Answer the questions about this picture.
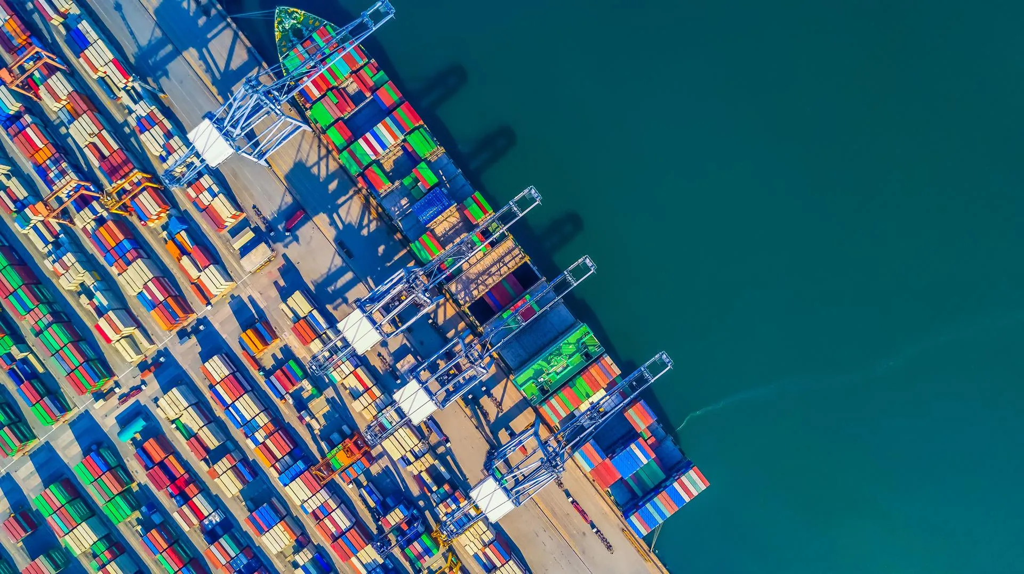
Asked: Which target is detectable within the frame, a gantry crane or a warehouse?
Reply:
gantry crane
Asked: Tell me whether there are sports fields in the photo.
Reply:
No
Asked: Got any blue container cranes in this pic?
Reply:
Yes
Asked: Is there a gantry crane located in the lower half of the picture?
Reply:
Yes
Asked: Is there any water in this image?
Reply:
Yes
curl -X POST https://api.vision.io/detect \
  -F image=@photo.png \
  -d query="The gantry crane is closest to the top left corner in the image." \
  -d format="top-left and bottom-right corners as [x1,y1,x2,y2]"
[0,43,76,101]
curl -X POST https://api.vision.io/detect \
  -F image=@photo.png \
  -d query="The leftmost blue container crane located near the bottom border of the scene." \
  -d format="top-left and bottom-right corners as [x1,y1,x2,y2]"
[369,499,425,558]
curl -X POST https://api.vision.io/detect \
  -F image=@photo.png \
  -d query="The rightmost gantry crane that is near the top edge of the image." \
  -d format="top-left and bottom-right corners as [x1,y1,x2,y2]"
[156,0,394,193]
